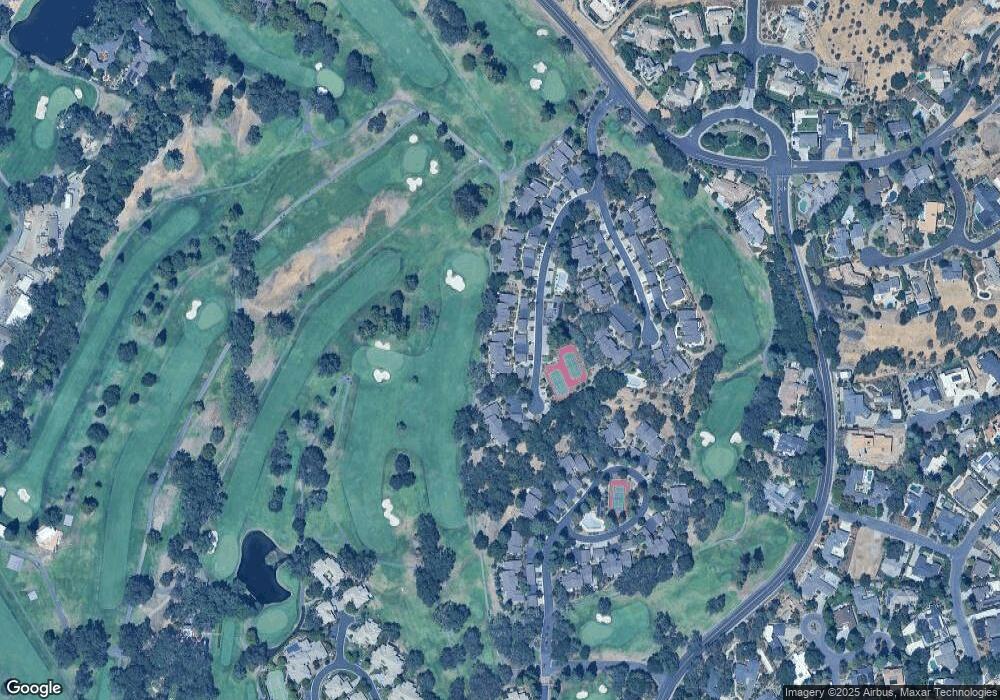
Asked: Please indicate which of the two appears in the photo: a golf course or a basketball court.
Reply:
golf course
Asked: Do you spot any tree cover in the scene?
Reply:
Yes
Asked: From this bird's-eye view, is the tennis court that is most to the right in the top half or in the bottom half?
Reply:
bottom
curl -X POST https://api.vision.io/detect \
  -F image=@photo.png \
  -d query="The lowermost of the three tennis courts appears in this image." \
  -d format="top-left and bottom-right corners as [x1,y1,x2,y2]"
[608,479,631,515]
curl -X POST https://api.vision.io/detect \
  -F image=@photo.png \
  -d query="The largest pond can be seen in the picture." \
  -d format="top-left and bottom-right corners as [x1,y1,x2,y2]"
[237,529,292,603]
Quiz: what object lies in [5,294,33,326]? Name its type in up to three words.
shed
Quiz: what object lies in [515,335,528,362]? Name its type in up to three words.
house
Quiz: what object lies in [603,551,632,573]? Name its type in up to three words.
house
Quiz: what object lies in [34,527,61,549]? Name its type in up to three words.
building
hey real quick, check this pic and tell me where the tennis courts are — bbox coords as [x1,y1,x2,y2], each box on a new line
[608,479,631,515]
[559,344,588,391]
[544,362,570,401]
